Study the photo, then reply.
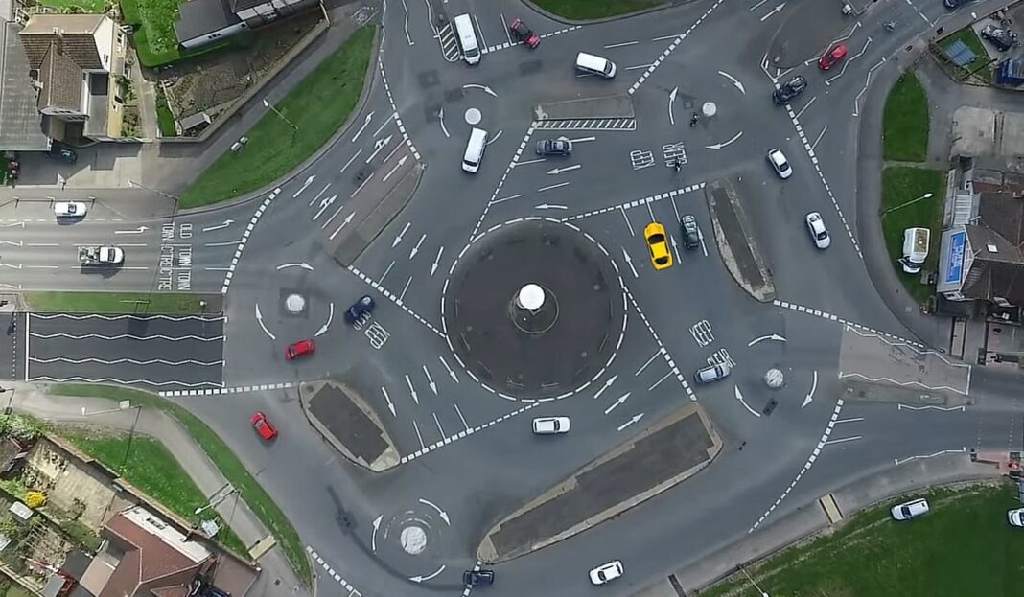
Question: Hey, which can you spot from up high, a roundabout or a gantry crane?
roundabout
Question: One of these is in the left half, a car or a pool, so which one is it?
car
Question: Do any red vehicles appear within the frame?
Yes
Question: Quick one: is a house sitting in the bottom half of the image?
Yes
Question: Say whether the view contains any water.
No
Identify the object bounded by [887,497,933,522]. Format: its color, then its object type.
white vehicle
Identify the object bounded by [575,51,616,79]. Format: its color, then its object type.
white van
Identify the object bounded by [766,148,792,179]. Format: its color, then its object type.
white car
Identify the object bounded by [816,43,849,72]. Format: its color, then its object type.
red car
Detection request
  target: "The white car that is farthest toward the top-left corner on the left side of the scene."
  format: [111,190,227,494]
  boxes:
[54,200,90,217]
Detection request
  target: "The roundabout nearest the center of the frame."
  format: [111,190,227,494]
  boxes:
[442,217,628,402]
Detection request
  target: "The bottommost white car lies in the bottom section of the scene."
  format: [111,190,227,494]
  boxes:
[588,560,624,583]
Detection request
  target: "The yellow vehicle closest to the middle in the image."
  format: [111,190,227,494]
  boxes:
[644,221,674,272]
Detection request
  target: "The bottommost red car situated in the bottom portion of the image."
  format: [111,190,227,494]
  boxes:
[252,411,280,442]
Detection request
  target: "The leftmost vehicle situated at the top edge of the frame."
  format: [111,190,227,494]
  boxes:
[455,11,482,69]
